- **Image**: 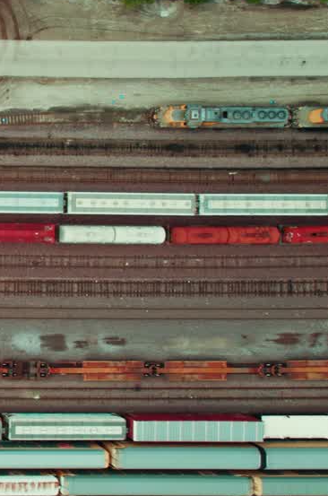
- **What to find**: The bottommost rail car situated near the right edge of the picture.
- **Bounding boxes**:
[240,466,328,496]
